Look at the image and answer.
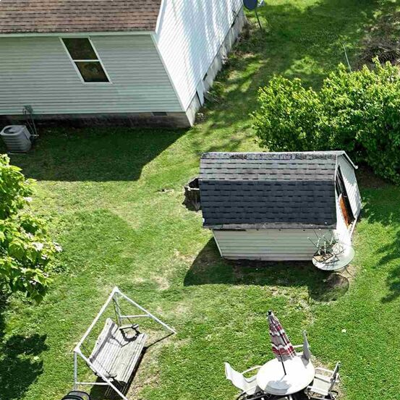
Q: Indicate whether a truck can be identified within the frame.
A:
No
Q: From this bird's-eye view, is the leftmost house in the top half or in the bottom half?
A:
top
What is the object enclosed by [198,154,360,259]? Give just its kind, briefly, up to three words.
shed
